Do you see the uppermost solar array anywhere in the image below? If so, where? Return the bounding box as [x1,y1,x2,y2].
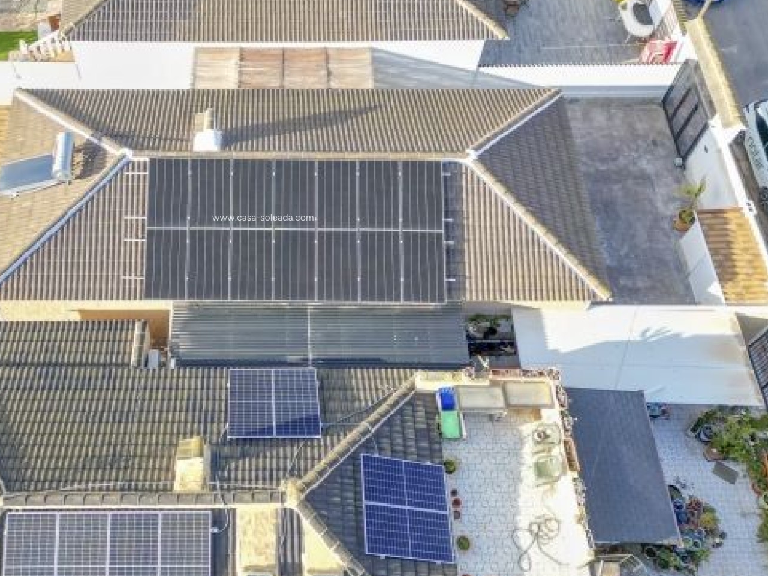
[121,161,453,303]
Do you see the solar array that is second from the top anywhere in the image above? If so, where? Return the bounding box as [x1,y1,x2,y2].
[228,369,320,436]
